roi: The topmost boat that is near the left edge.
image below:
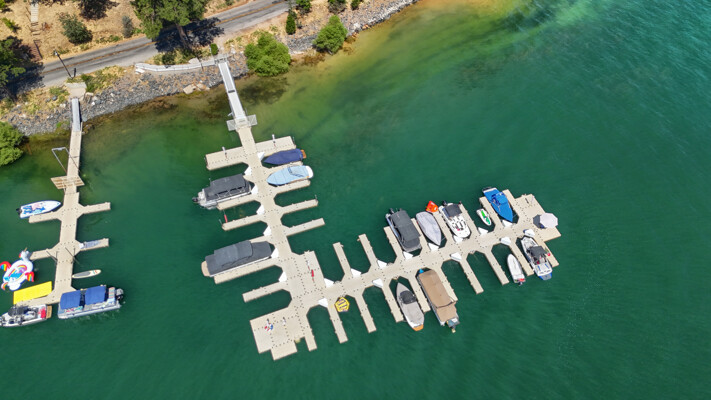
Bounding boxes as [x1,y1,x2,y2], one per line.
[15,202,60,217]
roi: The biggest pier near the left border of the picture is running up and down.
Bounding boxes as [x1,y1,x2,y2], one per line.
[12,131,112,311]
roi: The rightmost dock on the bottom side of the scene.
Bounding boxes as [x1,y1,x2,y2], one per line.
[206,126,561,361]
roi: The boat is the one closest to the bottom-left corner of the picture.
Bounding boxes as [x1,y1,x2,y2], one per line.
[0,303,51,330]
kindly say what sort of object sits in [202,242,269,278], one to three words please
boat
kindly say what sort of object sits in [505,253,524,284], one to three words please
boat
